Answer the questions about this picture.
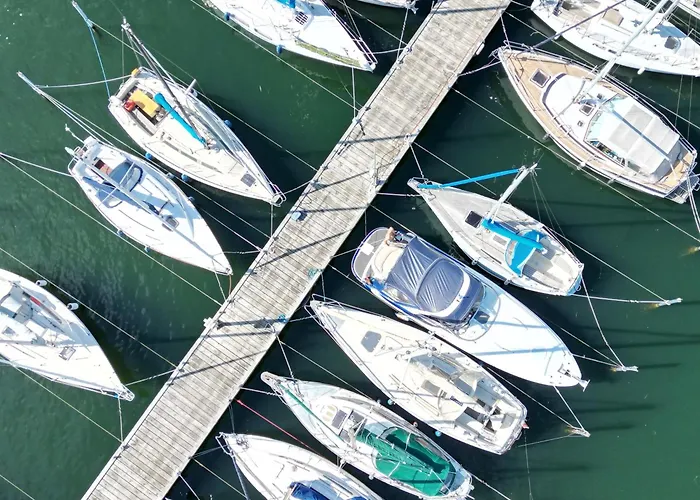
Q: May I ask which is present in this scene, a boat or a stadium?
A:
boat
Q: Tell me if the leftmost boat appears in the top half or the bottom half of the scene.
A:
bottom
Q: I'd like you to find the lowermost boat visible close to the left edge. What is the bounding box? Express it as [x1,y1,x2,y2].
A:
[0,262,129,400]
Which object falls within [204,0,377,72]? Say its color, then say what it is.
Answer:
white boat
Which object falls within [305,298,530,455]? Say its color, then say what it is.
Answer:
white boat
